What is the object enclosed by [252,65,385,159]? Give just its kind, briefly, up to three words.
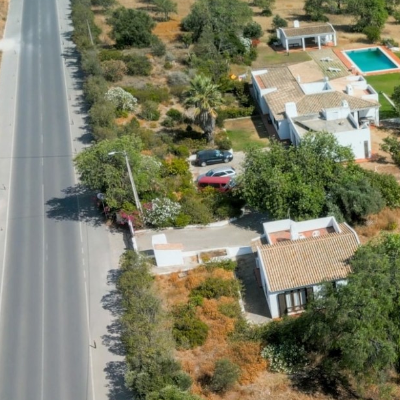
house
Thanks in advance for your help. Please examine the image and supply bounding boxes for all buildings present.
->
[252,65,385,159]
[269,19,340,53]
[255,215,361,322]
[155,234,182,265]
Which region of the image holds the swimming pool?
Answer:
top right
